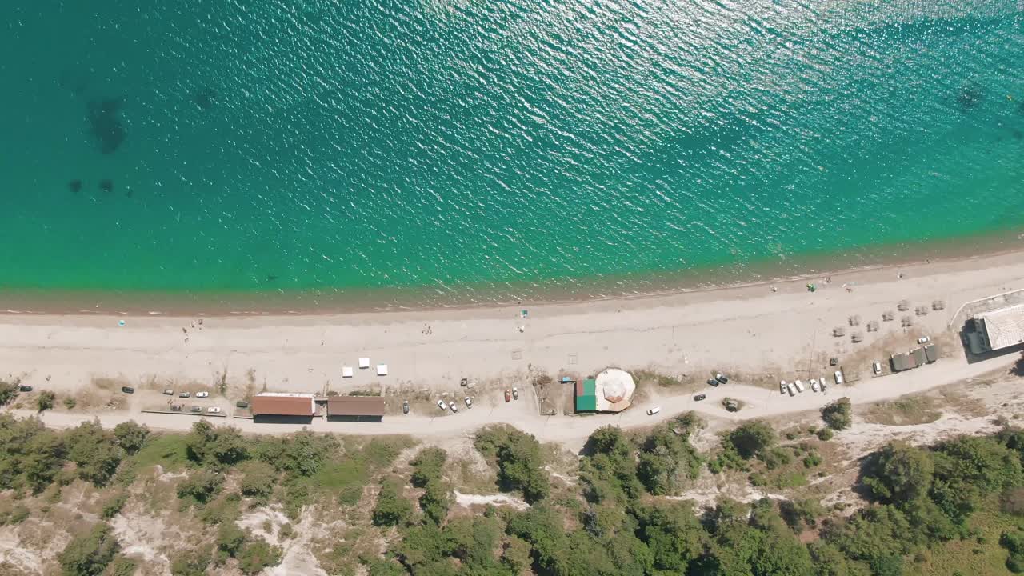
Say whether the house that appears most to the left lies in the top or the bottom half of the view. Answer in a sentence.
The house that appears most to the left is in the bottom half of the image.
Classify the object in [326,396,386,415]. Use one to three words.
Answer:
house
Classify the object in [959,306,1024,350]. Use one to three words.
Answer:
building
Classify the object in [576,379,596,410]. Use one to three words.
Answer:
building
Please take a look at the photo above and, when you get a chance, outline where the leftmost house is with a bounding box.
[251,391,317,416]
